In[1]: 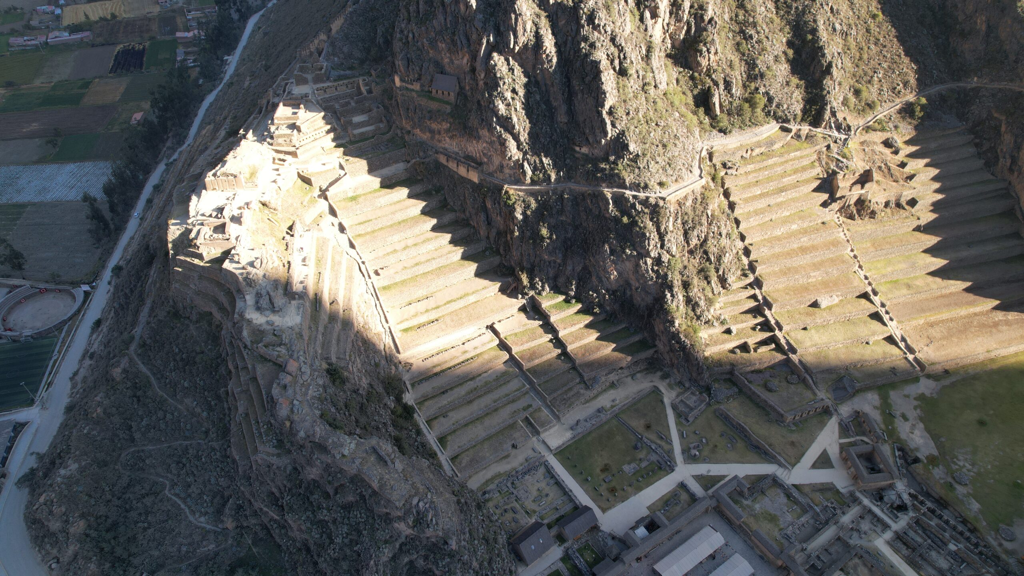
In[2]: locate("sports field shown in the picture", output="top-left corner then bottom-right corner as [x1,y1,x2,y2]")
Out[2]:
[0,336,59,408]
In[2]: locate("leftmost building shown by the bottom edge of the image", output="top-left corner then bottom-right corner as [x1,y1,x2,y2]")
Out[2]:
[507,516,556,567]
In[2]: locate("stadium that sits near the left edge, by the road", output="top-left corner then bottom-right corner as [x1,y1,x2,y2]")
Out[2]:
[0,272,93,344]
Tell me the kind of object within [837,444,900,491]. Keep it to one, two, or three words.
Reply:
house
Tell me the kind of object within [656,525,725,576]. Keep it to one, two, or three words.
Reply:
house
